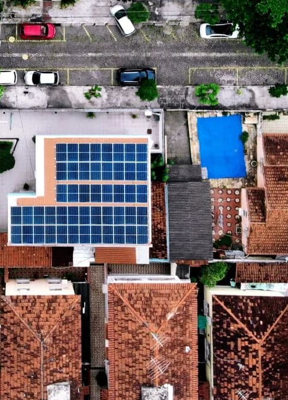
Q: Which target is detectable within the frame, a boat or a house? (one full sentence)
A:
The image shows a house.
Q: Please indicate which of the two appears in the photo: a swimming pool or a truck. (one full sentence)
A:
The one in the frame is a swimming pool.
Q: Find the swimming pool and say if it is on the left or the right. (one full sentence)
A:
It is on the right.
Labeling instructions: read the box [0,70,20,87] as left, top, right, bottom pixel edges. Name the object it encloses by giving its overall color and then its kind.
white car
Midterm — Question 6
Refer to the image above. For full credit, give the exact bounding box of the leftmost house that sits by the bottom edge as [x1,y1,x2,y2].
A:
[0,284,81,400]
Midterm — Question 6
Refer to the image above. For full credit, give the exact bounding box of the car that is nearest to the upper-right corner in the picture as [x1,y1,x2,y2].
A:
[200,22,238,40]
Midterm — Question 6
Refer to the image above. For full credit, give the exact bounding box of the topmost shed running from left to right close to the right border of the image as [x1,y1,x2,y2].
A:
[229,256,288,283]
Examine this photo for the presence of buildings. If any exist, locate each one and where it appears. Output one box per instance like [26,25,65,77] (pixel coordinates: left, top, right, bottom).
[104,277,199,400]
[201,284,288,400]
[234,134,288,255]
[0,284,81,400]
[8,132,150,246]
[229,256,288,283]
[165,179,213,261]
